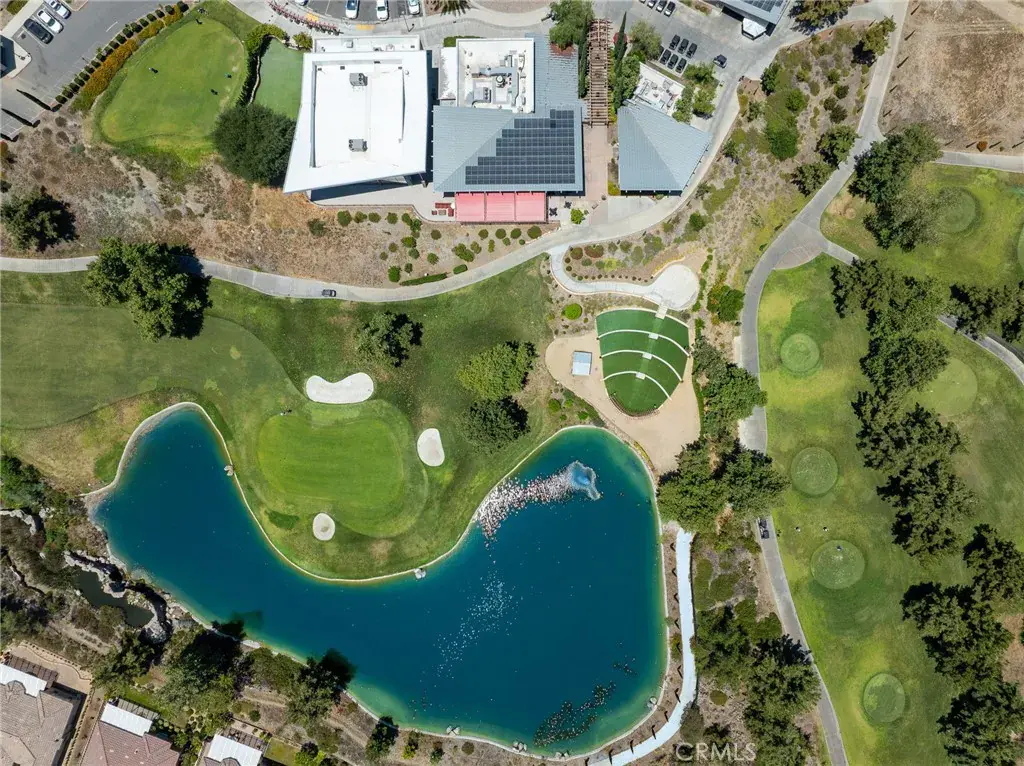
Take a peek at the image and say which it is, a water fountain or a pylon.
water fountain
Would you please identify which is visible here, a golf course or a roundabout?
golf course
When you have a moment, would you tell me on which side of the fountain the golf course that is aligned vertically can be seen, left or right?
to its right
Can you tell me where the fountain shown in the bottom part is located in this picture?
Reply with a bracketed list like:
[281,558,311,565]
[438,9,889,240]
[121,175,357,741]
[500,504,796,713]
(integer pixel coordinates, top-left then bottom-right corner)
[561,456,601,502]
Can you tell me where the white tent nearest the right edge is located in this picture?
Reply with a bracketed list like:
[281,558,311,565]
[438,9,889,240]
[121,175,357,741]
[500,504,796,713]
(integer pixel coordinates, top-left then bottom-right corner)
[732,18,766,54]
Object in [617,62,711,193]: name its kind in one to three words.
building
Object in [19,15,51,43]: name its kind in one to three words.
car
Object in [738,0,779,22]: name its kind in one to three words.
solar panel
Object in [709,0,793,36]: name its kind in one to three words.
building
